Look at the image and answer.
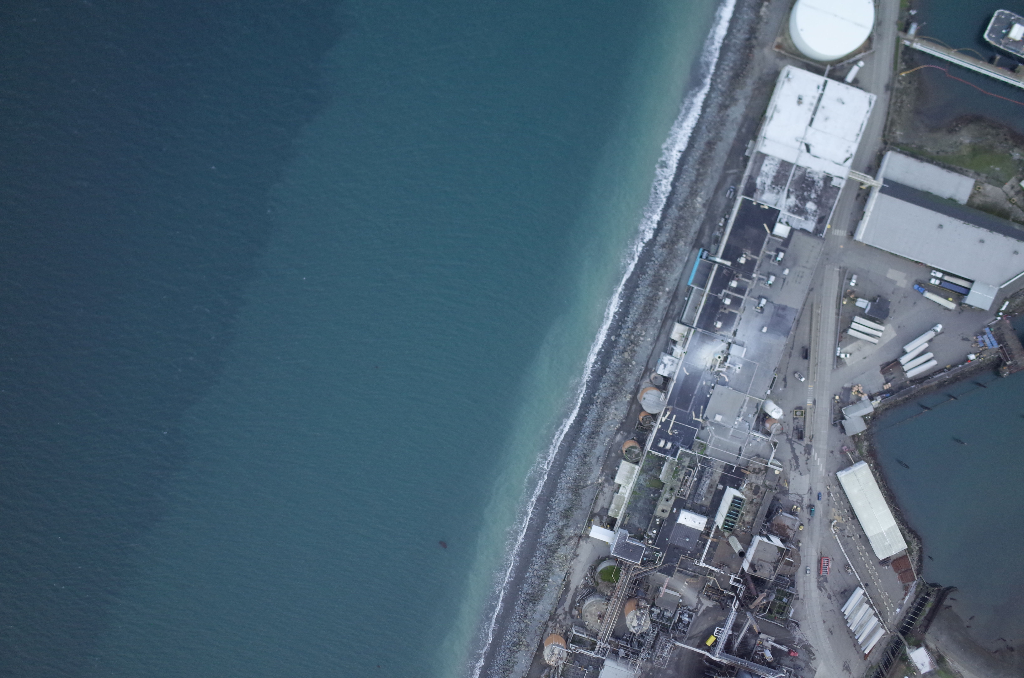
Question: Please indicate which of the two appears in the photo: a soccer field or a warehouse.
warehouse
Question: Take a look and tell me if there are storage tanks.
Yes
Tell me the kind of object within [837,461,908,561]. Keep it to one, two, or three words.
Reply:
building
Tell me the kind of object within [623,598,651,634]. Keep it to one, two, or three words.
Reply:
storage tank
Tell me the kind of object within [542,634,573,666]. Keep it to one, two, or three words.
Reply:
storage tank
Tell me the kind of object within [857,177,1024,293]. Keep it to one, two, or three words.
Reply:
warehouse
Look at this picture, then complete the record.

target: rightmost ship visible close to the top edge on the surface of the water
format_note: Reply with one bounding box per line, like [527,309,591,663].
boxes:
[983,9,1024,59]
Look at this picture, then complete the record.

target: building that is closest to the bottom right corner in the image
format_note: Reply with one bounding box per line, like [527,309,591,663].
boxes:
[907,643,935,674]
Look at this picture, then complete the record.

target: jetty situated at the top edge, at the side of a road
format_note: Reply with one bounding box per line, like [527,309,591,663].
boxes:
[896,32,1024,91]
